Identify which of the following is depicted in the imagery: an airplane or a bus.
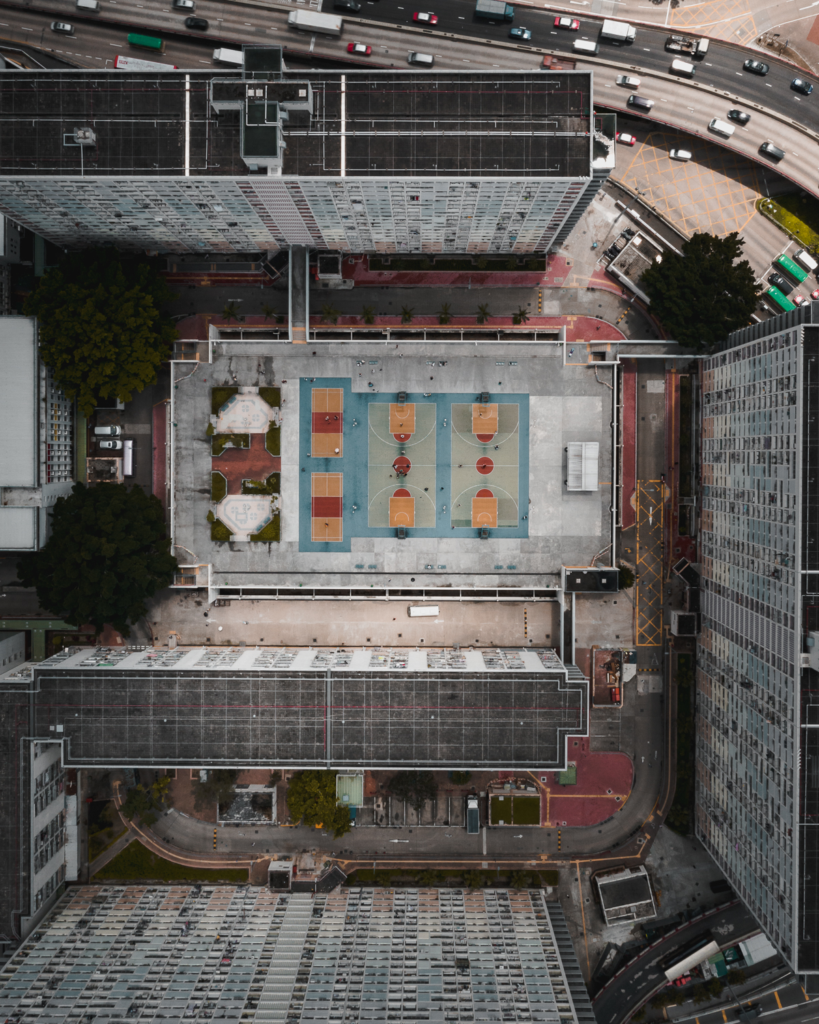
bus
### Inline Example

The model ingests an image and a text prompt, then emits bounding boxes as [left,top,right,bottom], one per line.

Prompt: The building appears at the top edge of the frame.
[0,46,614,252]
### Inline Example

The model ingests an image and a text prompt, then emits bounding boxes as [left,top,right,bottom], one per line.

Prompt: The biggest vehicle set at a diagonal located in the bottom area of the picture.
[659,933,718,981]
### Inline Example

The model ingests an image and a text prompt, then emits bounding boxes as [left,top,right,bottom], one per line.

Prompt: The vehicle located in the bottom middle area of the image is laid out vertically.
[467,795,480,837]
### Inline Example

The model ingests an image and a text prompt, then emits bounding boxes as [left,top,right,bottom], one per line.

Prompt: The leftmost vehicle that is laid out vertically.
[122,437,136,478]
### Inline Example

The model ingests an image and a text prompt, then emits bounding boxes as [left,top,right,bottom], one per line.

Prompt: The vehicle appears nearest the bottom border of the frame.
[737,1002,761,1020]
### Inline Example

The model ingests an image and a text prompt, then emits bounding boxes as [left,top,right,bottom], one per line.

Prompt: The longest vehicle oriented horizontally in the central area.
[406,604,439,617]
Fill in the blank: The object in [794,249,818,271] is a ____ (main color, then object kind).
white vehicle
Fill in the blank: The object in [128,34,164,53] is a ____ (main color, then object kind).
green vehicle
